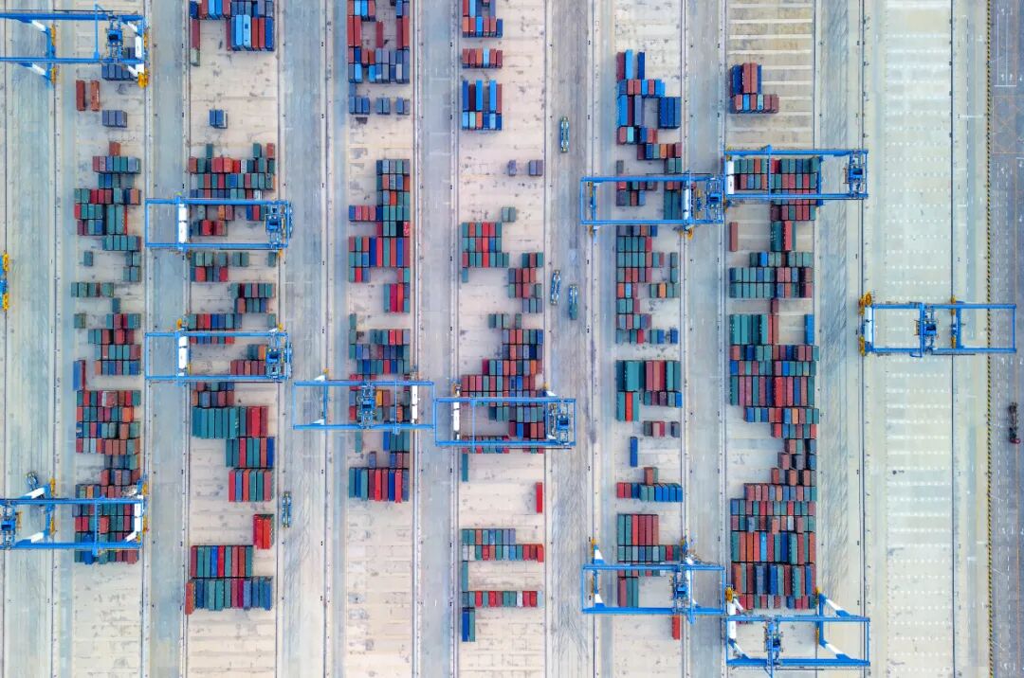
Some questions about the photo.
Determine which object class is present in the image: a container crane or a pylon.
container crane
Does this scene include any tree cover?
No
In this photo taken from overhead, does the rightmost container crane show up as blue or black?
blue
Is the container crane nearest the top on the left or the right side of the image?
left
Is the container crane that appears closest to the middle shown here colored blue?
Yes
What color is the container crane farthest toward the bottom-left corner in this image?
blue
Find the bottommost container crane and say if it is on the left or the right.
right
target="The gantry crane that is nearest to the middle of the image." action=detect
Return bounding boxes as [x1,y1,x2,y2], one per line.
[434,386,576,449]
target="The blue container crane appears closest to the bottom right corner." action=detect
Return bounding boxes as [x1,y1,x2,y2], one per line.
[724,584,868,678]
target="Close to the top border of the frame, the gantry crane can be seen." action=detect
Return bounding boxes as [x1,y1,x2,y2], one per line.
[0,2,149,95]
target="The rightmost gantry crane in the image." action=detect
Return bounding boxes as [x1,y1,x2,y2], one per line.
[861,291,1017,358]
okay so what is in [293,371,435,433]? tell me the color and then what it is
blue container crane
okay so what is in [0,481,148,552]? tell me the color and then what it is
blue container crane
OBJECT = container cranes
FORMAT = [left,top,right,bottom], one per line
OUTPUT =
[143,196,289,261]
[723,144,867,215]
[0,2,149,95]
[581,541,724,623]
[143,325,294,384]
[293,371,435,433]
[0,481,148,552]
[861,291,1017,358]
[434,386,576,449]
[724,584,868,678]
[581,171,724,247]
